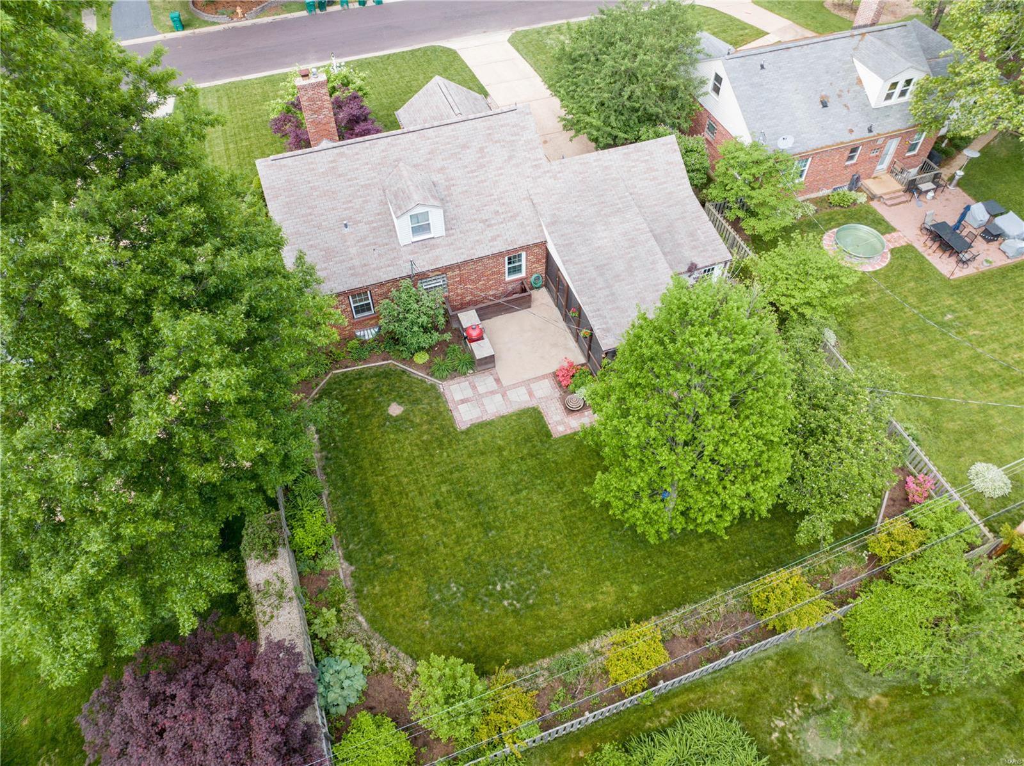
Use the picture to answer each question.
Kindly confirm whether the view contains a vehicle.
No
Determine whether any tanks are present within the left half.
No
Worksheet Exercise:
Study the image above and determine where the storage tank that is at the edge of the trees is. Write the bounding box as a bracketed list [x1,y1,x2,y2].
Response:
[837,226,896,271]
